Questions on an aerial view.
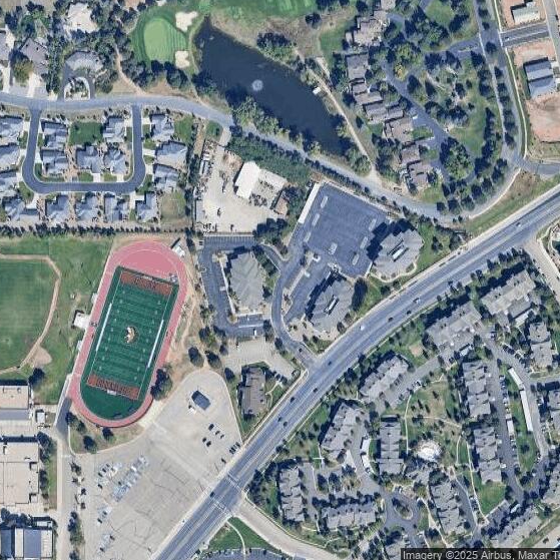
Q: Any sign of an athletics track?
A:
Yes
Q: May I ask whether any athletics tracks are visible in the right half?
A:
No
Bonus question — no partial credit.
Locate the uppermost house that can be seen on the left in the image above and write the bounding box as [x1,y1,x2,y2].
[64,2,96,34]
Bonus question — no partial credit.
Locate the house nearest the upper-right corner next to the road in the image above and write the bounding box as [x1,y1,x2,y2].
[513,8,539,23]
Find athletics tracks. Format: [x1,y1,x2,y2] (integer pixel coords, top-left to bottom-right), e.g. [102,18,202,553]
[69,240,187,427]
